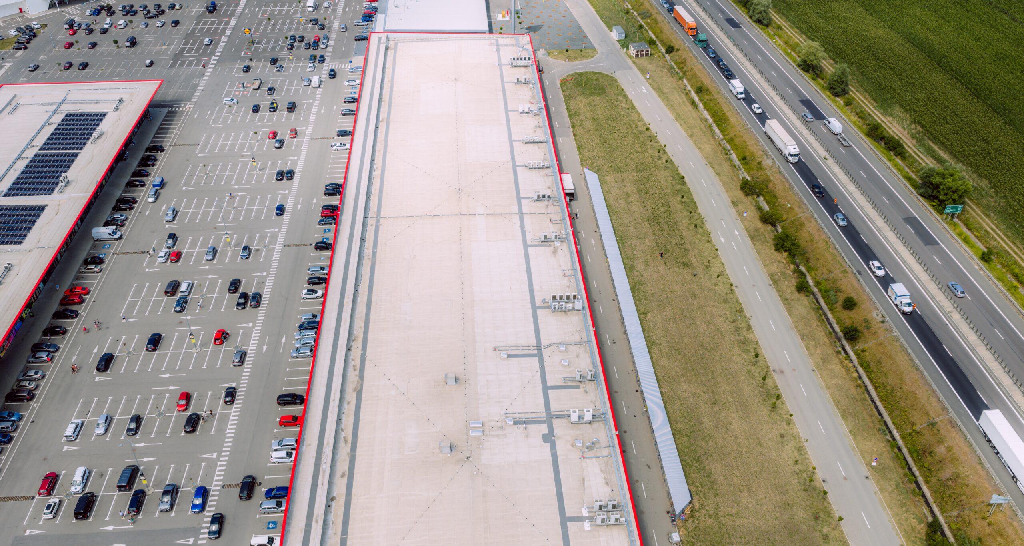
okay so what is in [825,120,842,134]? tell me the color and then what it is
white vehicle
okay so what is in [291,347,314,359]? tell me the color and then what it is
gray vehicle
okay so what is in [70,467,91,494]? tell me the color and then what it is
white car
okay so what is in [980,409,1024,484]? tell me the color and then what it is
white trailer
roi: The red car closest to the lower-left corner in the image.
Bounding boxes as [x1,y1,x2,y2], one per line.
[37,473,59,498]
